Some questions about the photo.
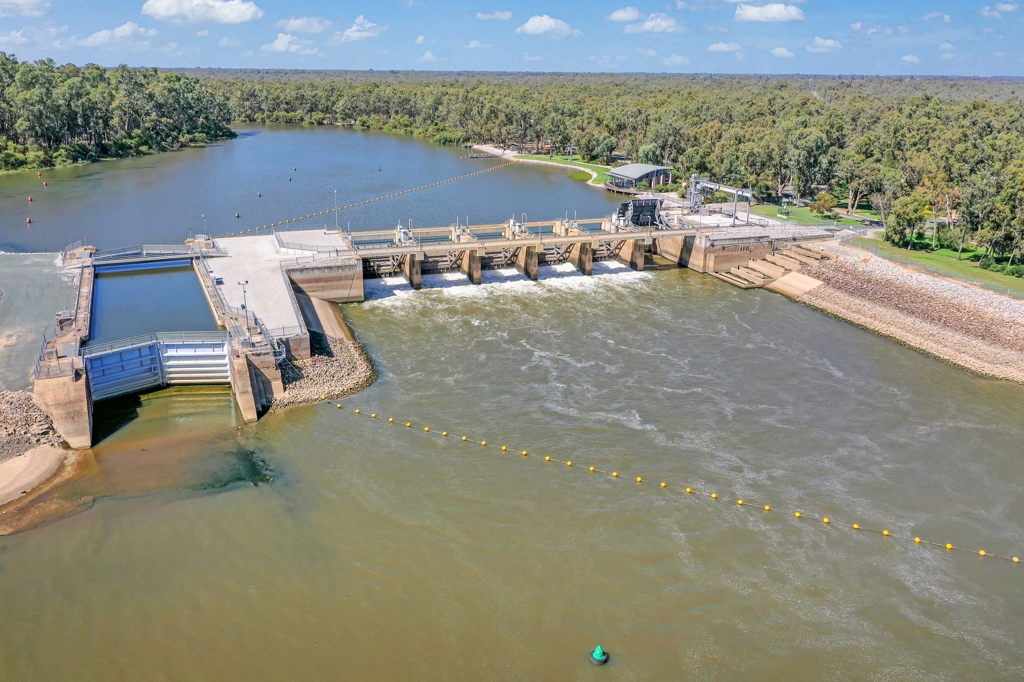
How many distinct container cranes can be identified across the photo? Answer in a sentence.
The photo contains exactly 1 container crane.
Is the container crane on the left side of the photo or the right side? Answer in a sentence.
The container crane is on the right side of the image.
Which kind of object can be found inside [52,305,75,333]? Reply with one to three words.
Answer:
shed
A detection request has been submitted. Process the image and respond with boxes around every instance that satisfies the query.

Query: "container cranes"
[681,166,755,225]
